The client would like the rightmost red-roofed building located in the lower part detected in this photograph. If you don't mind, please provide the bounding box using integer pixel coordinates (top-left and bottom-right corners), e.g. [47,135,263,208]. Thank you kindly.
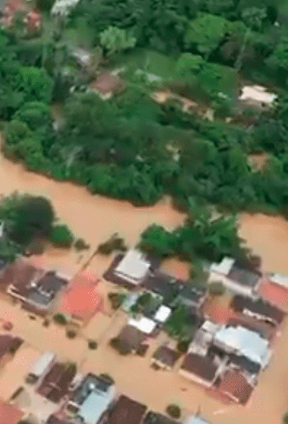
[256,277,288,309]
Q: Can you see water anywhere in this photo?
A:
Yes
